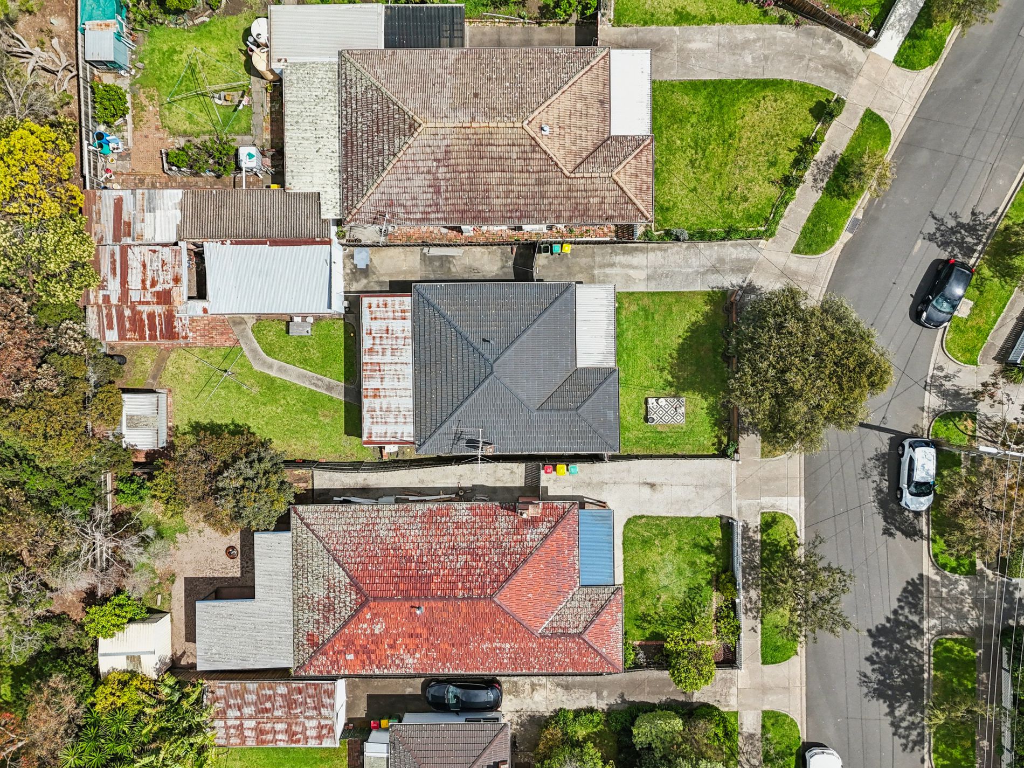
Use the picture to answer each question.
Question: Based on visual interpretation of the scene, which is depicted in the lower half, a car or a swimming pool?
car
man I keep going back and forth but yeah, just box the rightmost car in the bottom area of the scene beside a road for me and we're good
[897,438,939,509]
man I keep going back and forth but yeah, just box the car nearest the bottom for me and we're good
[803,746,839,768]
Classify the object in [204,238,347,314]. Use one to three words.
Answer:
building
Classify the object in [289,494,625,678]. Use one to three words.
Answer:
house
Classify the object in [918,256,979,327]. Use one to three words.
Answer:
car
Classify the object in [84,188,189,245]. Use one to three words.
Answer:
shed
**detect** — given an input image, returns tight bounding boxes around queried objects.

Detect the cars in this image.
[918,256,979,327]
[897,438,939,509]
[803,746,839,768]
[425,677,502,718]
